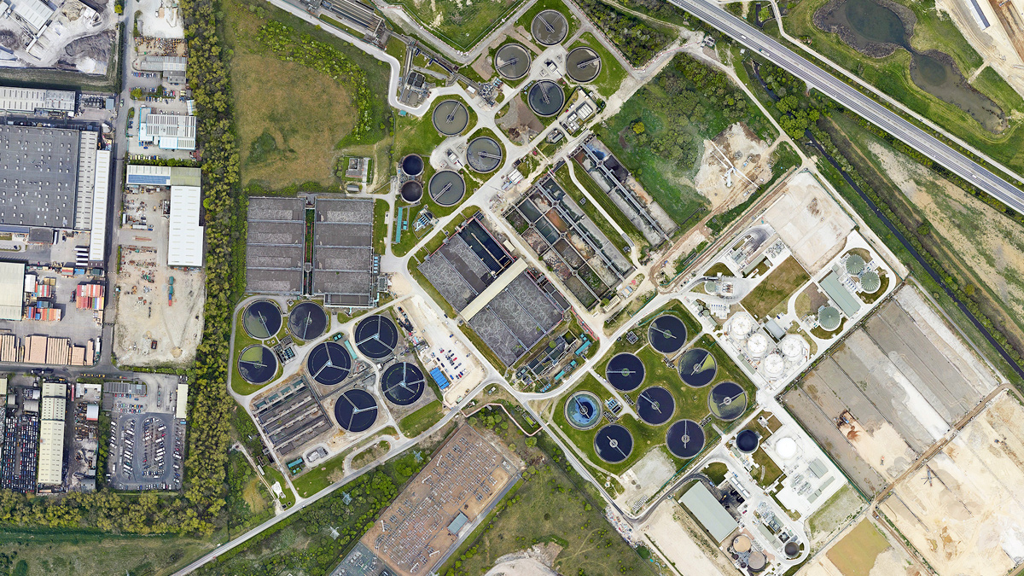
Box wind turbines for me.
[718,144,758,189]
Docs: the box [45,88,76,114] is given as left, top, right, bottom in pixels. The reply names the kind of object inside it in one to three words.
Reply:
building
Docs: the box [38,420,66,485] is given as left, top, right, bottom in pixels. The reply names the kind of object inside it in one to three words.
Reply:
building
